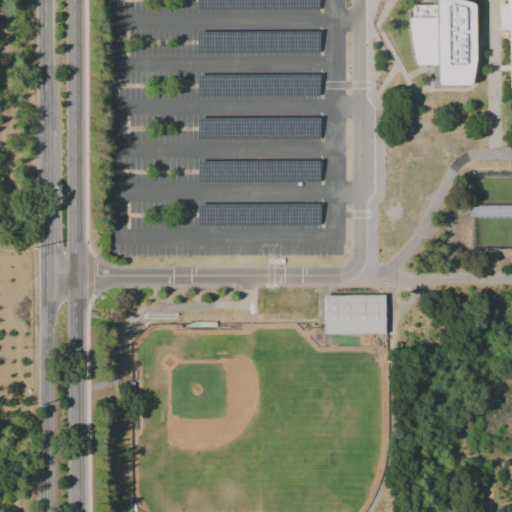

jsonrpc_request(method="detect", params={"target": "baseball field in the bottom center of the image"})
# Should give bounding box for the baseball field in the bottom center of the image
[134,323,390,512]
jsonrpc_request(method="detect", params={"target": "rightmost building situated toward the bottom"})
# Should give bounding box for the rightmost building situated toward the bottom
[326,294,387,334]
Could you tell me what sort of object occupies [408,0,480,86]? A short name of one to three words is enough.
building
